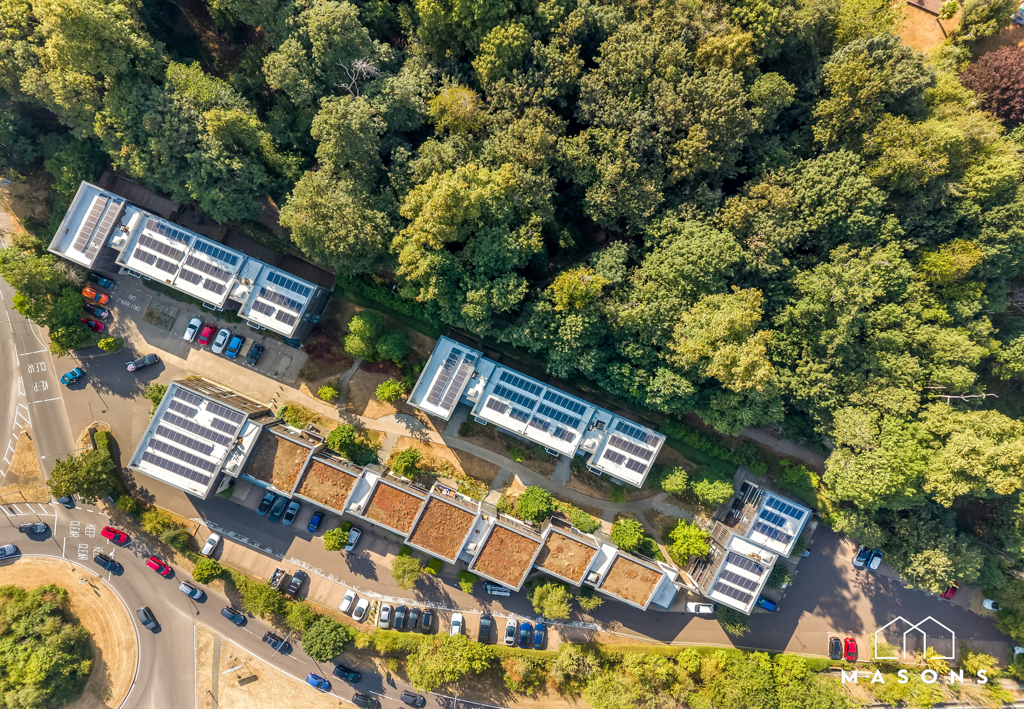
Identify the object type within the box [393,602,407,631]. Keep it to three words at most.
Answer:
car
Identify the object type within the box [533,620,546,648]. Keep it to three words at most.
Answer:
vehicle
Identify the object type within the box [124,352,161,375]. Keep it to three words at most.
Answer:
vehicle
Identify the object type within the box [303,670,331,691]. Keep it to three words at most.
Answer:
car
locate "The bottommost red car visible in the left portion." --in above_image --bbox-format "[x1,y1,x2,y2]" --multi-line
[143,555,173,577]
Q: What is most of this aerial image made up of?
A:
trees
